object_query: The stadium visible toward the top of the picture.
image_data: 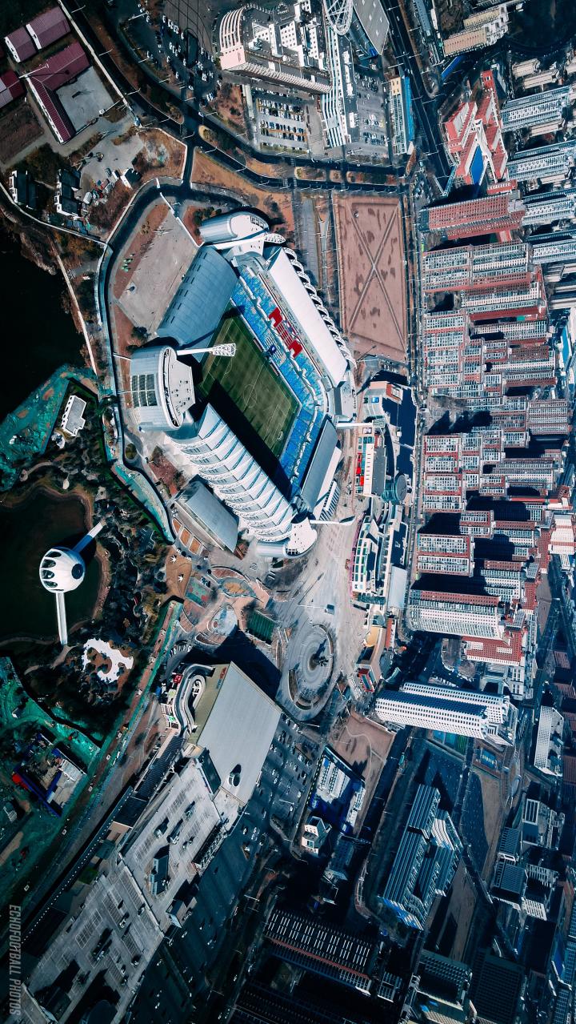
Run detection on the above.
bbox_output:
[126,210,356,559]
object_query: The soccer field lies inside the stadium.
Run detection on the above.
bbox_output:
[195,304,299,480]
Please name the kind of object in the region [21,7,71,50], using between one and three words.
shed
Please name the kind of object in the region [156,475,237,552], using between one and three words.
building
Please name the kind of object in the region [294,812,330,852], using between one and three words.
house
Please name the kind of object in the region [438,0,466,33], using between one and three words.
building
